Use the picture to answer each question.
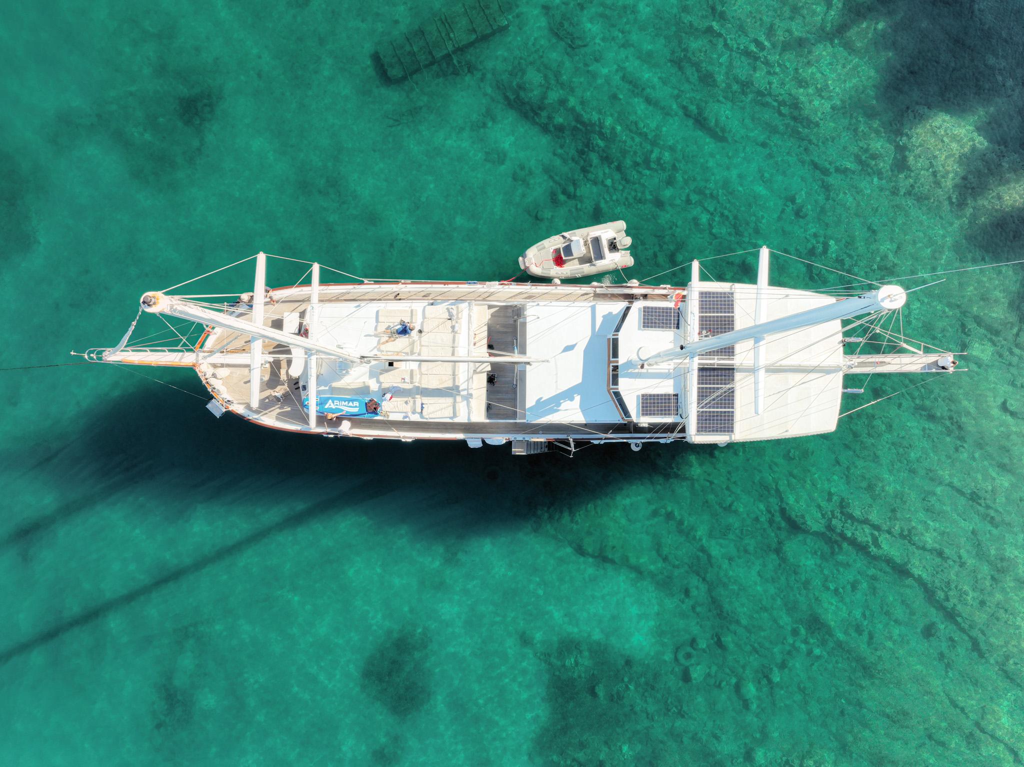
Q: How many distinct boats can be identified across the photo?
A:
2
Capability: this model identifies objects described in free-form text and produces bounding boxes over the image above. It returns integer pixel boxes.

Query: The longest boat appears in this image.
[71,244,968,456]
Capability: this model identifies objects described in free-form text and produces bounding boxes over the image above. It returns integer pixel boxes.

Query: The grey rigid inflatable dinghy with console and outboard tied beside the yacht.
[518,221,632,278]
